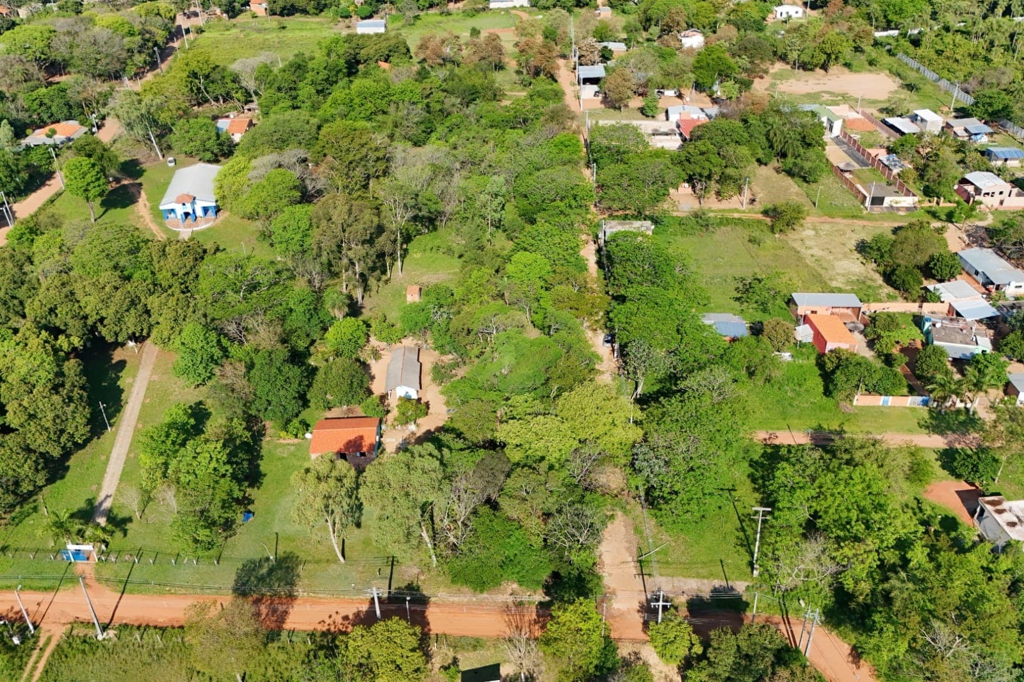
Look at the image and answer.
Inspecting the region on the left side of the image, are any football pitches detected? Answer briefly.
No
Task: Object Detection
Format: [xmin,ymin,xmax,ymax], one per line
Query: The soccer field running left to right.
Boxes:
[784,70,902,98]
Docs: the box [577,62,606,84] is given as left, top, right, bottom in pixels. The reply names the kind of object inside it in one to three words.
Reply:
barn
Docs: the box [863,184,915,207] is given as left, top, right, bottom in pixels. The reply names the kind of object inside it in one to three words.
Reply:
building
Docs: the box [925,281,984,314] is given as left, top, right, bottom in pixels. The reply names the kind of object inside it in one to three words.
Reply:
shed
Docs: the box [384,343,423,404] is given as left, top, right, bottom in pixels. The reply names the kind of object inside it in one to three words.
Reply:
house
